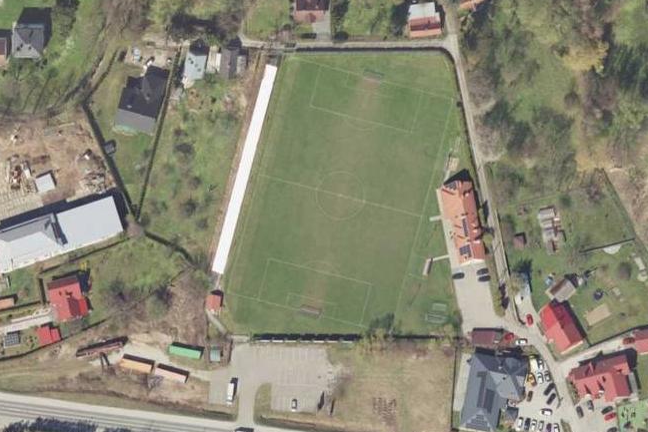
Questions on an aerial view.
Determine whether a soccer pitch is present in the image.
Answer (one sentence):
Yes, looking at the shot, I can spot a soccer pitch.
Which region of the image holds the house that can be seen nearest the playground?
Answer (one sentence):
The house that can be seen nearest the playground is in the bottom right part of the image.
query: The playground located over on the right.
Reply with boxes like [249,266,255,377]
[618,400,648,432]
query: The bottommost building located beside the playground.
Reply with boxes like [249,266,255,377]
[571,357,634,401]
